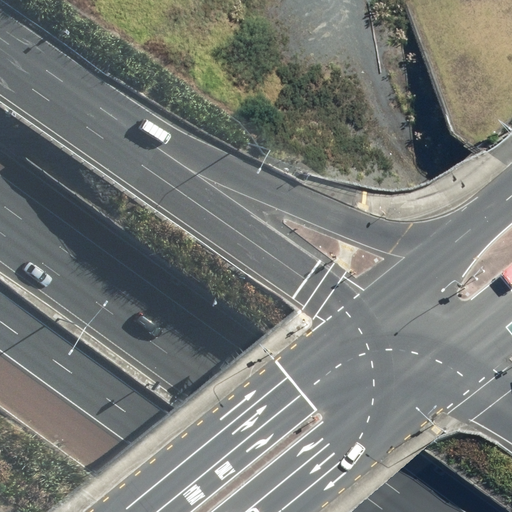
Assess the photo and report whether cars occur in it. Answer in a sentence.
Yes, the frame does contain a car.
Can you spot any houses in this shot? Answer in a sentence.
No, the picture doesn't show any house.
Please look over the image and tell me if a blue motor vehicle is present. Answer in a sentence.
No, the photo shows no blue motor vehicle.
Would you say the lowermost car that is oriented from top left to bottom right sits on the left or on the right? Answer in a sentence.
The lowermost car that is oriented from top left to bottom right appears in the left half of the scene.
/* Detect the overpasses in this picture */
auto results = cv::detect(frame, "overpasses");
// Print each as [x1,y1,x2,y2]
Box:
[46,310,512,512]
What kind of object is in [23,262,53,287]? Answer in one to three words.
car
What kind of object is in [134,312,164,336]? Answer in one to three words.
car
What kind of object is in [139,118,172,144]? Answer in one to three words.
vehicle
